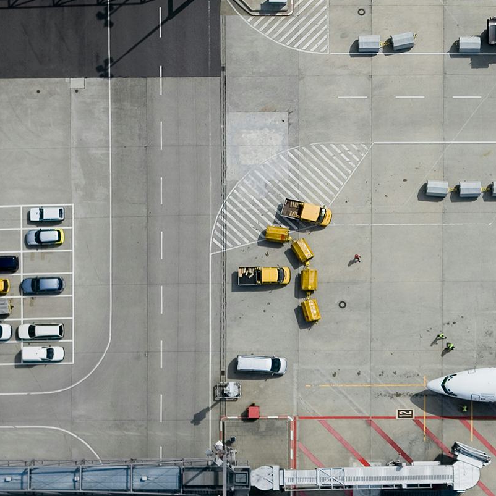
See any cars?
Yes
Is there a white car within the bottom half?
Yes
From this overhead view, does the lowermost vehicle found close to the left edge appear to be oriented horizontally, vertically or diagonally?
horizontally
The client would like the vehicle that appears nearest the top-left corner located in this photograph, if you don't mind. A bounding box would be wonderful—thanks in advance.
[31,205,66,223]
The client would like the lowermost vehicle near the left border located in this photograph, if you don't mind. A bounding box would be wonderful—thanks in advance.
[22,344,65,365]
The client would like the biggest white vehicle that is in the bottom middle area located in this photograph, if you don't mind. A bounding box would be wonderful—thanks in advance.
[238,355,287,377]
